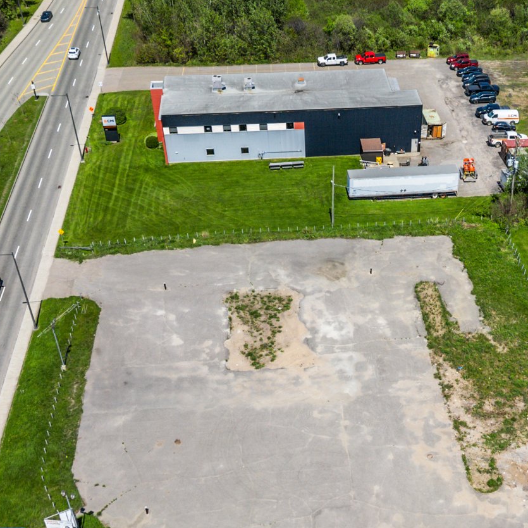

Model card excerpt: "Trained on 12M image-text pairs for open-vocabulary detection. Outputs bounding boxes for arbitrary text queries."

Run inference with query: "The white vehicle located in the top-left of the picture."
[66,47,79,61]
